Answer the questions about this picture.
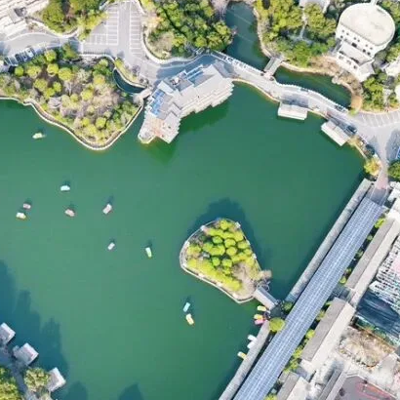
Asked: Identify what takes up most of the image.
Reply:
water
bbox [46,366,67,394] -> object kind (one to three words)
shed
